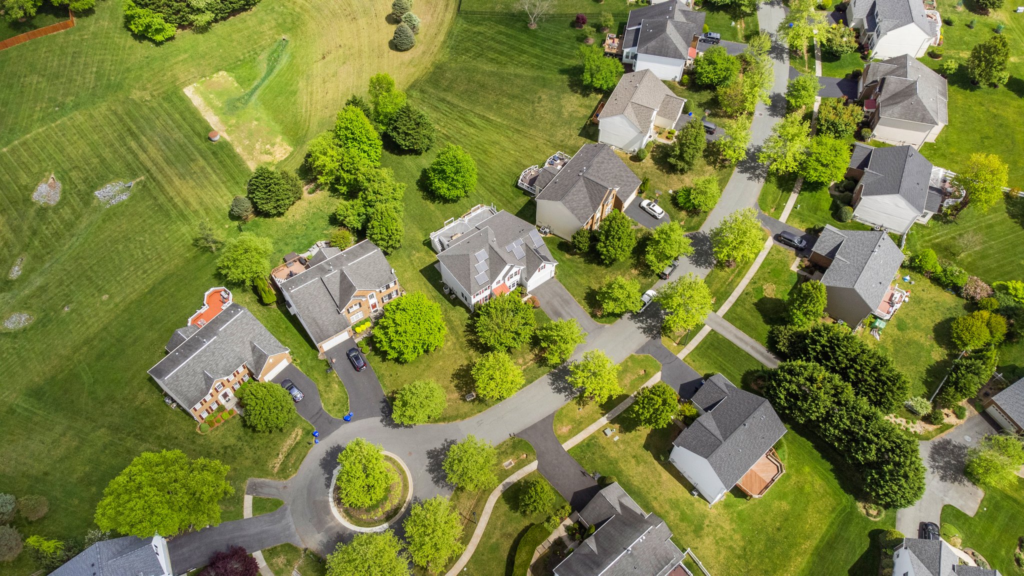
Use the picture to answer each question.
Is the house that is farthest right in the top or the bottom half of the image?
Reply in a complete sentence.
It is in the bottom half that the house that is farthest right appears.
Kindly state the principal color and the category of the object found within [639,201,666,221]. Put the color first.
white car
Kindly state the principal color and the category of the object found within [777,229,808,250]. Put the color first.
gray car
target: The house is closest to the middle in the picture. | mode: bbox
[436,206,561,313]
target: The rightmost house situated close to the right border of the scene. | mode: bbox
[986,374,1024,446]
